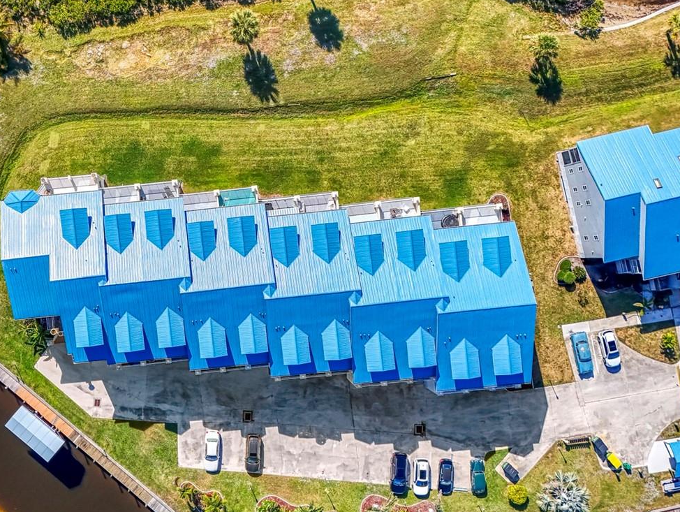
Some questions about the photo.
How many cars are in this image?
8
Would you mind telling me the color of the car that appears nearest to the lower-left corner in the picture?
white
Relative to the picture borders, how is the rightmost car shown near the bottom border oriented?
up and down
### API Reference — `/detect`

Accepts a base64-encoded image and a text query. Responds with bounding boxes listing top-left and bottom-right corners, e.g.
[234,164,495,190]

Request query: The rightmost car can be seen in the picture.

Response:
[594,326,623,372]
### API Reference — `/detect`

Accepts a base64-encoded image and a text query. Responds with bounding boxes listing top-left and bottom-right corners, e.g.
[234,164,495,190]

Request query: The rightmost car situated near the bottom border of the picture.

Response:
[468,457,488,496]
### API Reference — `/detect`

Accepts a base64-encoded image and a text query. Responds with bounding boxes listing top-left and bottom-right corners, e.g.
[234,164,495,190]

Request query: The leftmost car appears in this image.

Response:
[203,429,223,472]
